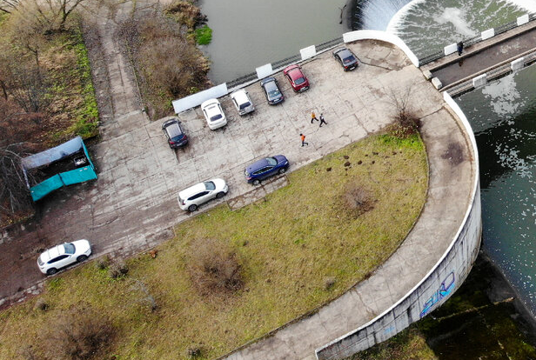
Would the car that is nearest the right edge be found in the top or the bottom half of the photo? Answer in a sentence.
The car that is nearest the right edge sits in the top half of the picture.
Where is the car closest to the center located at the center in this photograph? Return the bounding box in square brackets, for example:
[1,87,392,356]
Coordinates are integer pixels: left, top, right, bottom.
[239,151,292,183]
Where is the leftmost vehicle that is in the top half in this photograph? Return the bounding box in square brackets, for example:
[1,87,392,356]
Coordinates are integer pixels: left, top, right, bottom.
[159,115,189,147]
